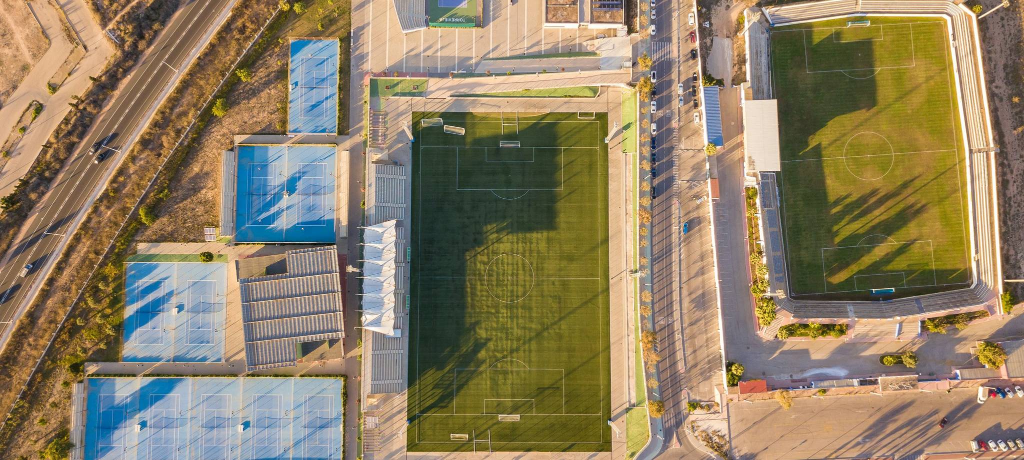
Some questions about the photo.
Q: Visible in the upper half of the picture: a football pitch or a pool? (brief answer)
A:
football pitch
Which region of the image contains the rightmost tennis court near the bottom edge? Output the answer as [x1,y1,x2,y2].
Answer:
[292,378,343,460]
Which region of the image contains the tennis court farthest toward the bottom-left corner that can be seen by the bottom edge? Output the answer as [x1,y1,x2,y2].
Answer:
[84,378,139,460]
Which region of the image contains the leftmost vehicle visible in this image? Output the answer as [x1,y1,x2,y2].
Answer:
[18,263,32,277]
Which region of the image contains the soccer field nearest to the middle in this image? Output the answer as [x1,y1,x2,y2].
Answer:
[407,112,611,452]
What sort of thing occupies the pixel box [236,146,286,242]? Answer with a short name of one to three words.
tennis court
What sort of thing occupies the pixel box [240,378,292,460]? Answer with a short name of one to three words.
tennis court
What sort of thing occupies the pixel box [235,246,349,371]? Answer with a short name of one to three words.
building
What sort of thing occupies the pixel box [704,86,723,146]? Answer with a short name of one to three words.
shed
